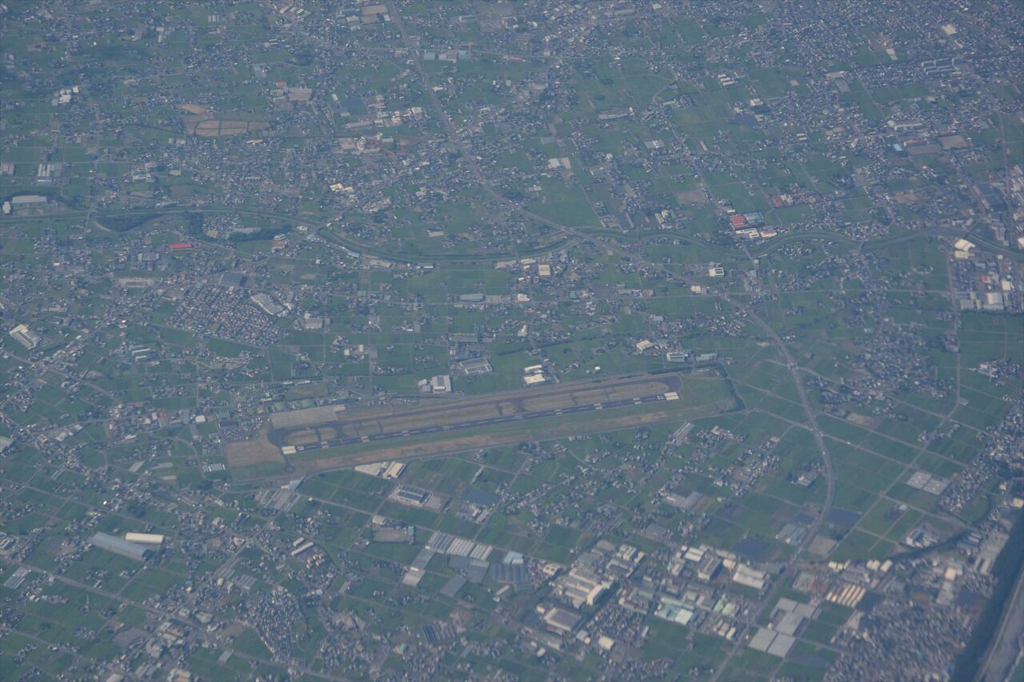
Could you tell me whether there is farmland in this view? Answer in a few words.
Yes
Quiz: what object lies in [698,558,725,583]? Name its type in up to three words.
building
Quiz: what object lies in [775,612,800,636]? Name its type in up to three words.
greenhouse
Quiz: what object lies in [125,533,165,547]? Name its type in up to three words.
building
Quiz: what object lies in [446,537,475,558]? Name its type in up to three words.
greenhouse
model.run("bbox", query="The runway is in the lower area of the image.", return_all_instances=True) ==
[279,390,682,454]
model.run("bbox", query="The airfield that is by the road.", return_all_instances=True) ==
[225,366,744,480]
